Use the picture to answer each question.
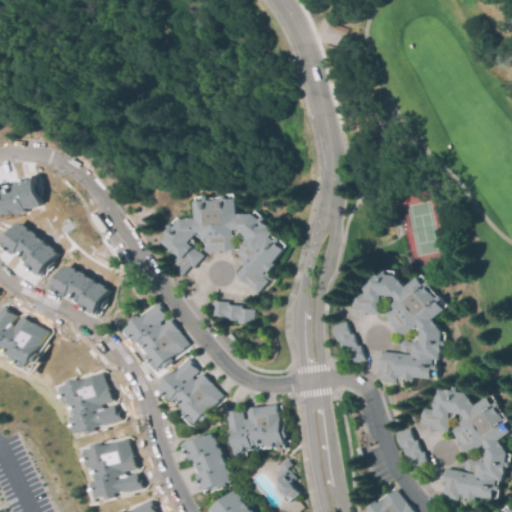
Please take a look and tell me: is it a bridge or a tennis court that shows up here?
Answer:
tennis court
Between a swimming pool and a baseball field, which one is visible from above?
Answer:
swimming pool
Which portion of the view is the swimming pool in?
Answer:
bottom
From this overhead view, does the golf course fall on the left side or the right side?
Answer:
right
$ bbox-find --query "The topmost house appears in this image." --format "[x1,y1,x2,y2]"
[0,178,45,214]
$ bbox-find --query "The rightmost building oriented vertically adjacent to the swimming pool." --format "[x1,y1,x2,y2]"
[279,459,302,500]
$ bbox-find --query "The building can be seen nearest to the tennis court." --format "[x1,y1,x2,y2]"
[354,268,446,385]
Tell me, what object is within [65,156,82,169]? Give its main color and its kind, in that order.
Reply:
white vehicle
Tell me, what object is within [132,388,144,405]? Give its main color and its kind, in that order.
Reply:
white vehicle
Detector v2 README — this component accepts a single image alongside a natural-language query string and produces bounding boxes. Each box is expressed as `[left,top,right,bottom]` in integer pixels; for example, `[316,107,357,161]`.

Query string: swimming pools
[254,472,282,510]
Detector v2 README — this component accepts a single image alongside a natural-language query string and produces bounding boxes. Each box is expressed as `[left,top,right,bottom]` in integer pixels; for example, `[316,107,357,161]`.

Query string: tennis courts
[406,194,446,264]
